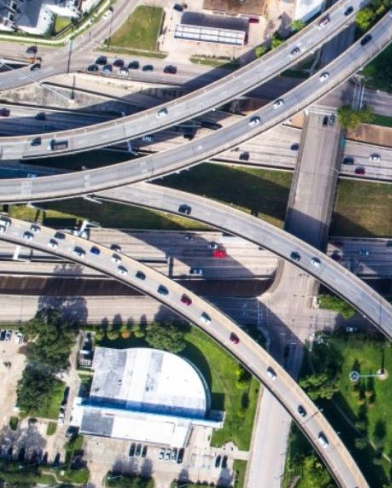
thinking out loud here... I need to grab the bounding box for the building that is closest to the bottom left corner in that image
[75,347,236,446]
